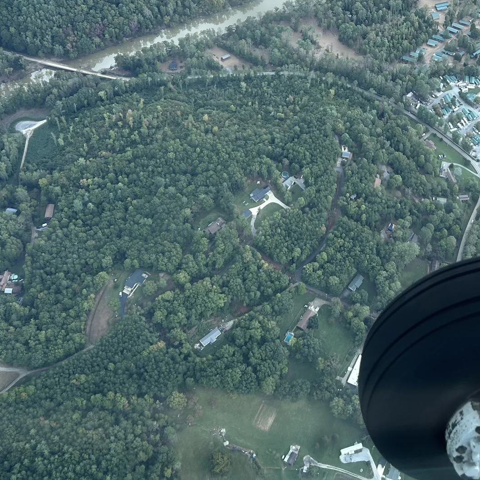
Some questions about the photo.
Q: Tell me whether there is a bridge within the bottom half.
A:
No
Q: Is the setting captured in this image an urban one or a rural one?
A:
rural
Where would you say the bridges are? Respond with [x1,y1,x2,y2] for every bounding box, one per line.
[41,58,136,83]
